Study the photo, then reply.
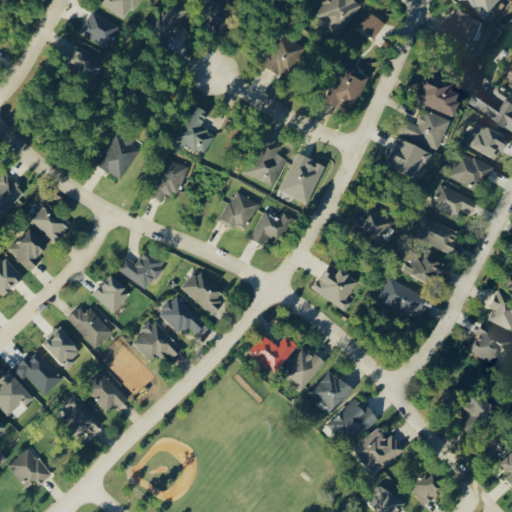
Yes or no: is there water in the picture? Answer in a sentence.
No, there's no water in this view.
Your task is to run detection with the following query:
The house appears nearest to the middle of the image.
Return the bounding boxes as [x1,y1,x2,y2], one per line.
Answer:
[248,216,288,250]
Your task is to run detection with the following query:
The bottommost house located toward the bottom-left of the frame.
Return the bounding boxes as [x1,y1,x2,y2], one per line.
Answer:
[6,446,52,492]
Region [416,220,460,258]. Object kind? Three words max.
house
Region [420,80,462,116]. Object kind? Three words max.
house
